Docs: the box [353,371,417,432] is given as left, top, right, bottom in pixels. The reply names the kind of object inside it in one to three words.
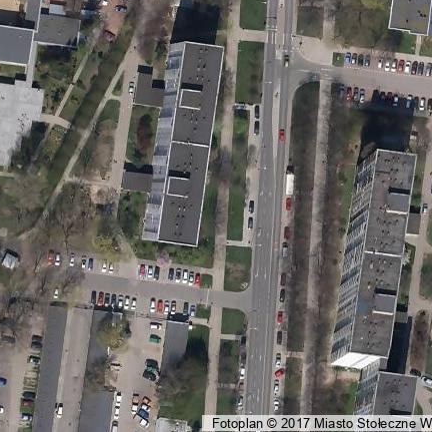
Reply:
building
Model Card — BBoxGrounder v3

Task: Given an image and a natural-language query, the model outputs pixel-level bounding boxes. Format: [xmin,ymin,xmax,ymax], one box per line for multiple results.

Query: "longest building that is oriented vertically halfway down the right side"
[331,149,417,365]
